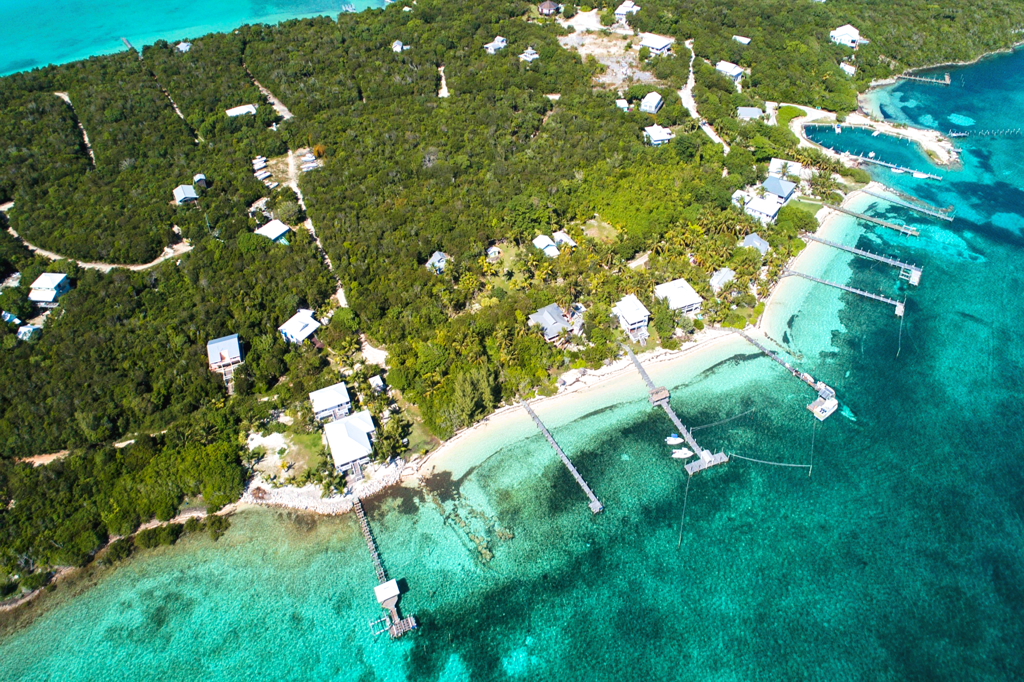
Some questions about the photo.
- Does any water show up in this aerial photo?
Yes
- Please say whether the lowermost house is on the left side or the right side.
left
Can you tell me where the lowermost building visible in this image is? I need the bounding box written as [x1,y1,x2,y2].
[324,410,378,486]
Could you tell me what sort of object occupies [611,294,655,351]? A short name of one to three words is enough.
house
